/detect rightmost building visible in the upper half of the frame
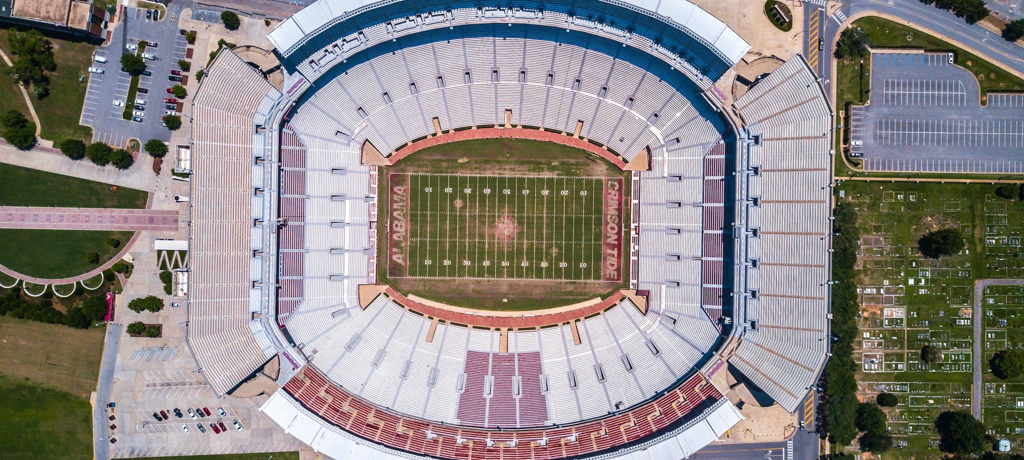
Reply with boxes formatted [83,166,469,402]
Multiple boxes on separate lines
[174,144,187,175]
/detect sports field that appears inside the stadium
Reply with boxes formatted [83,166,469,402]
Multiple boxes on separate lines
[378,125,633,331]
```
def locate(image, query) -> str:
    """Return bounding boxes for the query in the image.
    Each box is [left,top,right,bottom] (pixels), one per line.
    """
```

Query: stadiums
[183,0,839,460]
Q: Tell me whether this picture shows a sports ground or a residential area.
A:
sports ground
